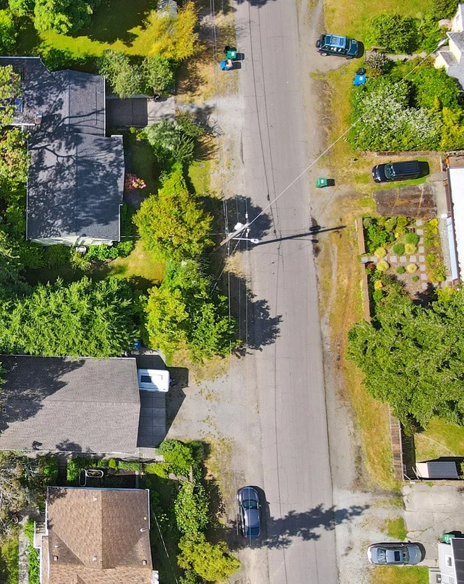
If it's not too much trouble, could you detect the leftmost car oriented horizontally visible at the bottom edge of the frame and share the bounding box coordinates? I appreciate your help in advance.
[366,541,420,567]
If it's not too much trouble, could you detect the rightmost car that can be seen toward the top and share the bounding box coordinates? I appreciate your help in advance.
[368,158,424,185]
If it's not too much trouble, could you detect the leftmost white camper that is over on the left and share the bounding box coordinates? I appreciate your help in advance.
[138,369,180,393]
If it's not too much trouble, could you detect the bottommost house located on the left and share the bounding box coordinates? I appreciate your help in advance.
[38,484,159,584]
